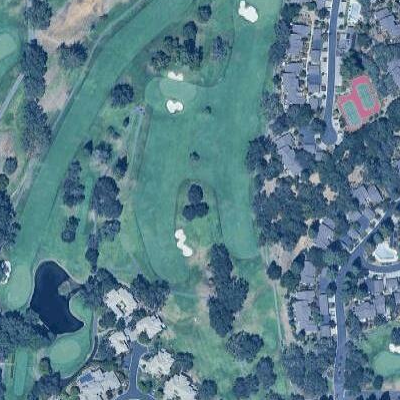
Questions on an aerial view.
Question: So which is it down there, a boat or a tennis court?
tennis court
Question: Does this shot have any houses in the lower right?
Yes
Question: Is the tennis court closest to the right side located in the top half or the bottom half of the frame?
top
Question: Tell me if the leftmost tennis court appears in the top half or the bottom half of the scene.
top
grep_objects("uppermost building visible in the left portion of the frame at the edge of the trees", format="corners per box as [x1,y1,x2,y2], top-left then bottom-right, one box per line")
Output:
[102,287,137,319]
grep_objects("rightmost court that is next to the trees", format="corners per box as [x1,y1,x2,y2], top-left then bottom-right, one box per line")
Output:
[351,74,380,122]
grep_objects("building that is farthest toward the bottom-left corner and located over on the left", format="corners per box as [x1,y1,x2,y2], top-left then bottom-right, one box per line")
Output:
[77,366,120,400]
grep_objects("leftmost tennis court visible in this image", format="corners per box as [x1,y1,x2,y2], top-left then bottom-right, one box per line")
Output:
[337,93,363,132]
